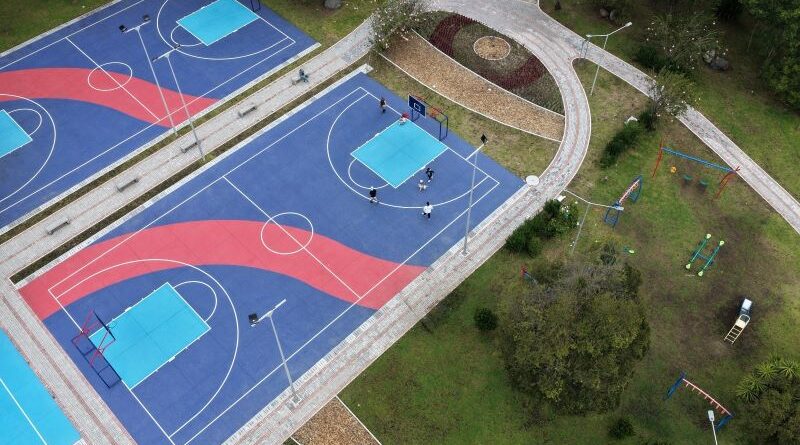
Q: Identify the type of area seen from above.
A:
sports ground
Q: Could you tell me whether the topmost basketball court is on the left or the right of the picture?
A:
left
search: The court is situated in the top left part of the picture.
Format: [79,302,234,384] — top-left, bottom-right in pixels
[0,0,320,232]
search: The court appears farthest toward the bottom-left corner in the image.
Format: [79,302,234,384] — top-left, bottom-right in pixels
[0,330,79,445]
